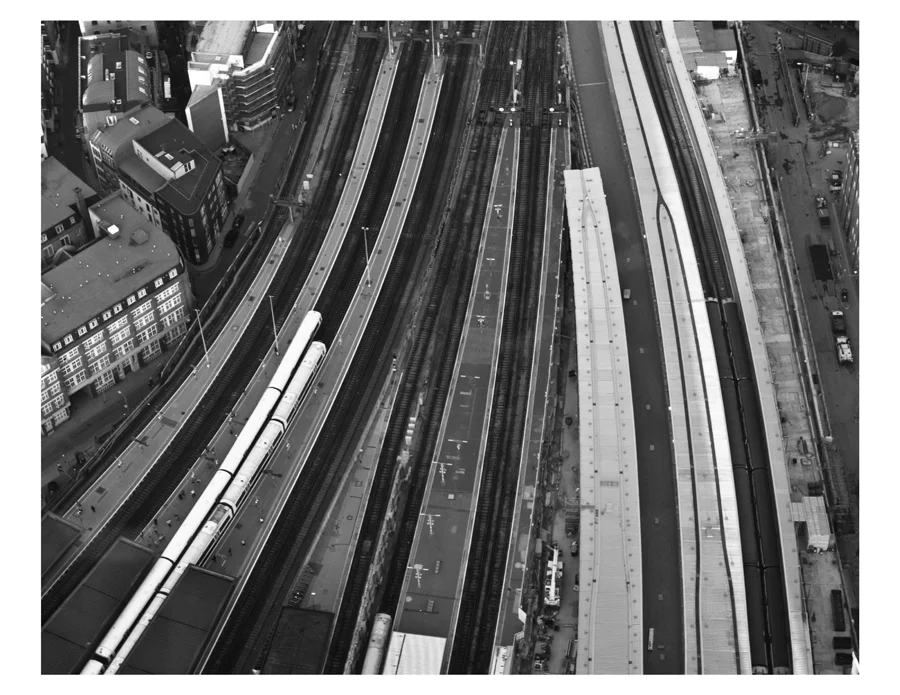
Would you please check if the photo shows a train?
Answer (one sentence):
Yes, the image includes a train.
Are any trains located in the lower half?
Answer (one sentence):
Yes, there is a train in the lower half.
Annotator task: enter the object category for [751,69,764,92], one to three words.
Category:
vehicle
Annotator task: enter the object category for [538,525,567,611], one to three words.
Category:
crane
